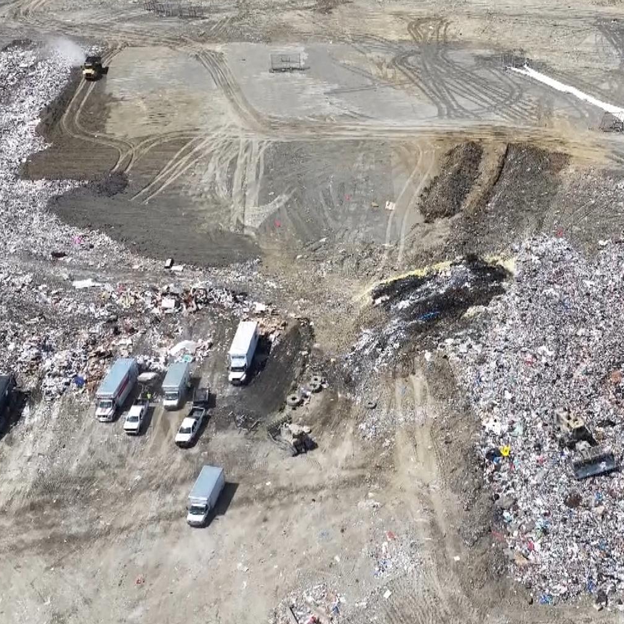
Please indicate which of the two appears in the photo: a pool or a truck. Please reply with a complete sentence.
The one in the frame is a truck.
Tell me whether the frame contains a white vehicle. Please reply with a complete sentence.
Yes, a white vehicle appears in the view.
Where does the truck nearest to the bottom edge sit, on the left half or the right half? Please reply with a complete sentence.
You can find the truck nearest to the bottom edge on the left side of the picture.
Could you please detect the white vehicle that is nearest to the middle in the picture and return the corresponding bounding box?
[228,322,256,384]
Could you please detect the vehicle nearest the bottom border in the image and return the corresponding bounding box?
[188,466,221,525]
